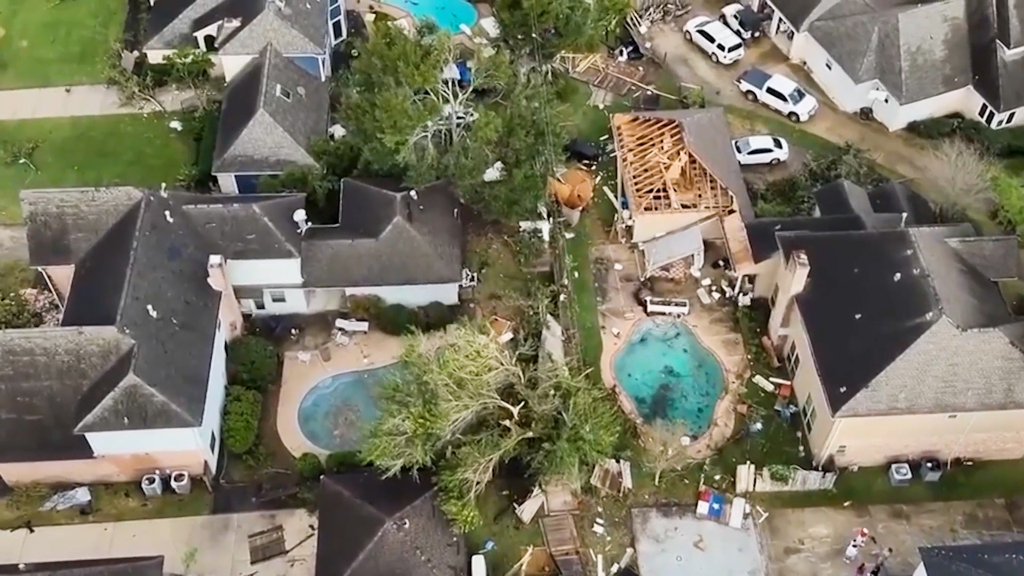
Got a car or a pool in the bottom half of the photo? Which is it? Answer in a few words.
pool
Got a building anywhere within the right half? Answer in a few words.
Yes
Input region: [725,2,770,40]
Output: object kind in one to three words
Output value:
car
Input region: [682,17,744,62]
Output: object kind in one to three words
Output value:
car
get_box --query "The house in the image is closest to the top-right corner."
[742,0,1024,133]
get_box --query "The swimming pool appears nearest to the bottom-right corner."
[609,314,732,445]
